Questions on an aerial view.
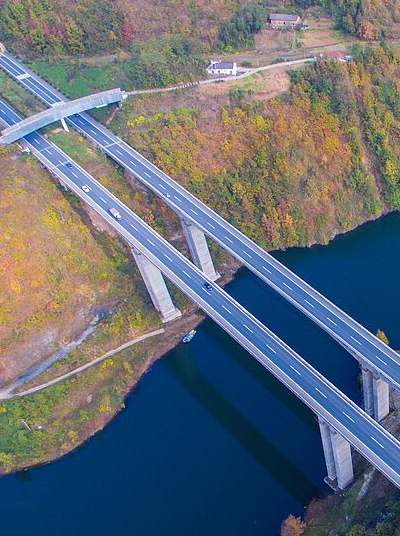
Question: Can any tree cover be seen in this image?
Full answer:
Yes, tree cover can be seen from above here.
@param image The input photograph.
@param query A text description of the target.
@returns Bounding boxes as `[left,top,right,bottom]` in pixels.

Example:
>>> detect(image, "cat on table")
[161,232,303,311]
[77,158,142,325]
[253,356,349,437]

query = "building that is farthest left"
[199,59,238,76]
